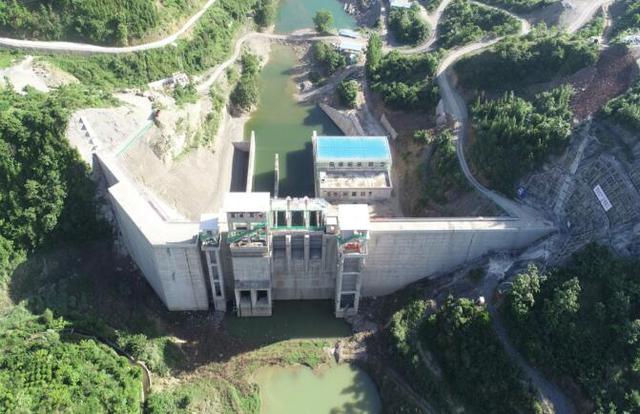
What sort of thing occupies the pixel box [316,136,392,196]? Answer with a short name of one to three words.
building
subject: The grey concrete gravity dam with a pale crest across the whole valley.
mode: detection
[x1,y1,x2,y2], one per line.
[96,148,543,313]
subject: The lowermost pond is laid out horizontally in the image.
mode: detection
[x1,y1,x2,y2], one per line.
[251,360,382,414]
